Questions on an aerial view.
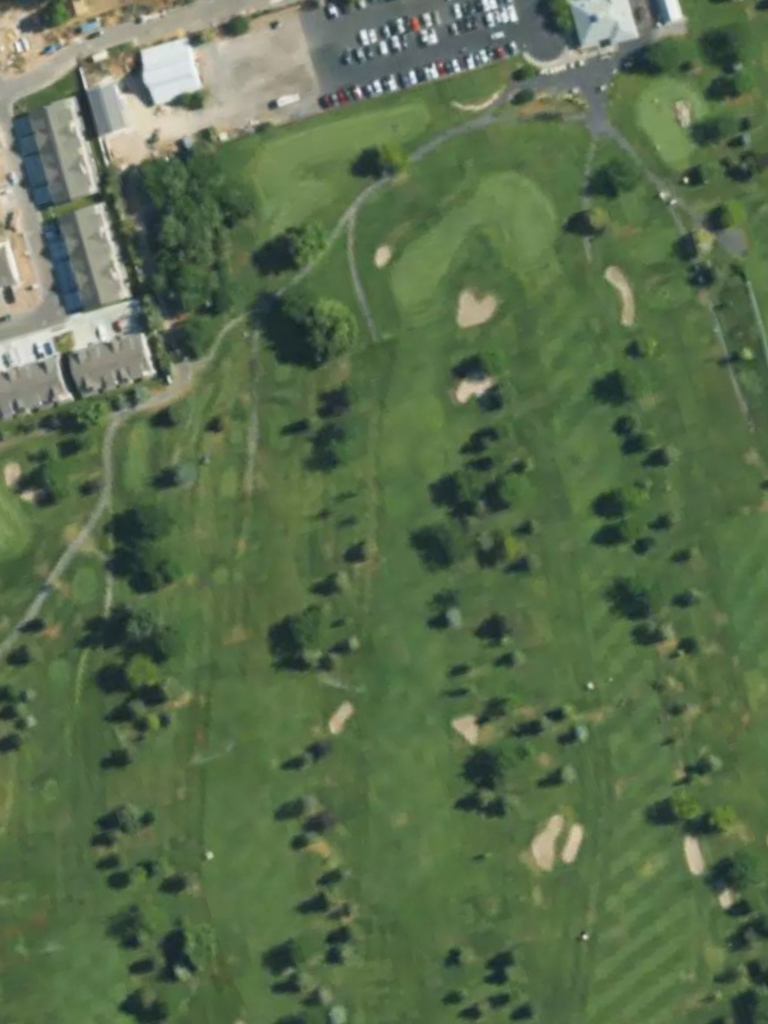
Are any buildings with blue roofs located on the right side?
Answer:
No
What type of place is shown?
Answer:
golf course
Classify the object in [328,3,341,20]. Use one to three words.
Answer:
vehicle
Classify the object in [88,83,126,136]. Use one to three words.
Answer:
shed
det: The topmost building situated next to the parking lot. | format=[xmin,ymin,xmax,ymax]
[573,0,641,54]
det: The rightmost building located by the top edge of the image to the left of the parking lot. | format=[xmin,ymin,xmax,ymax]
[140,38,203,105]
